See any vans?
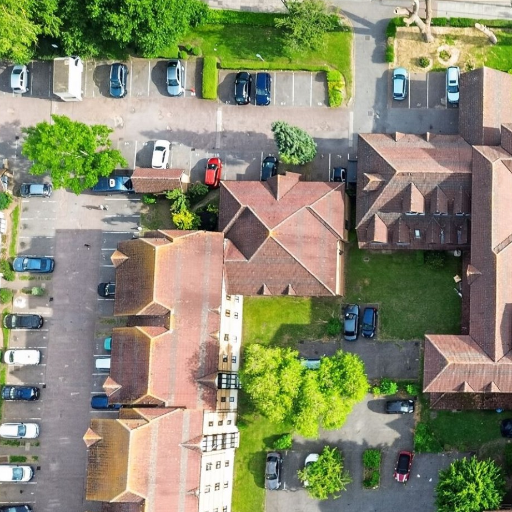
Yes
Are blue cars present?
Yes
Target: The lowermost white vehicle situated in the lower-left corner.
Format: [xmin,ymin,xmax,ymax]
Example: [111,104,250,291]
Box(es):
[0,464,37,484]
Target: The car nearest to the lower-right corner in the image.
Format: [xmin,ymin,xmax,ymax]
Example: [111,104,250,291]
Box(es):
[395,450,413,480]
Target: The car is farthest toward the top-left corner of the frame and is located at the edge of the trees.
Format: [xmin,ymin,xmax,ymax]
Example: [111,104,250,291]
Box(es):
[9,64,32,97]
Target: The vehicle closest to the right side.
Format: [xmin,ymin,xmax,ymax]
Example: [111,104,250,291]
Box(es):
[443,68,460,105]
